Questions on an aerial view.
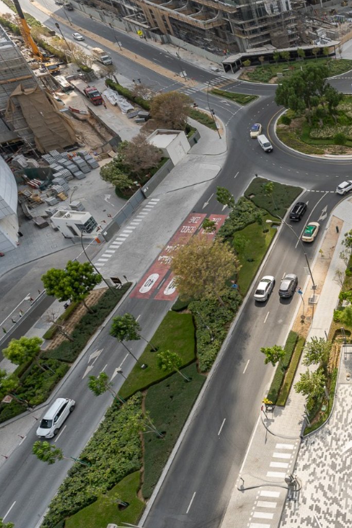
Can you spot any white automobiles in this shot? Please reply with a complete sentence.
Yes, you can see a white automobile in this photo.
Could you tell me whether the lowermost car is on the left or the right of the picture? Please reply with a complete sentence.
It is on the left.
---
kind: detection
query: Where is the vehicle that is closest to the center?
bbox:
[253,274,275,301]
